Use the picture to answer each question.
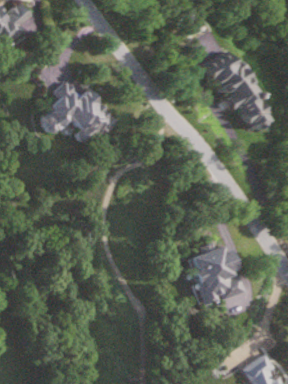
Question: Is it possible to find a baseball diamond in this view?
No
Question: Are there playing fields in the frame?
No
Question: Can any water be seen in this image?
No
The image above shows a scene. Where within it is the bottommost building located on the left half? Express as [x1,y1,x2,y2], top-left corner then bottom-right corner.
[40,80,110,143]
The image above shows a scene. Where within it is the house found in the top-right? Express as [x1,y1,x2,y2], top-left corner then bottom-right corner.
[204,50,276,133]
